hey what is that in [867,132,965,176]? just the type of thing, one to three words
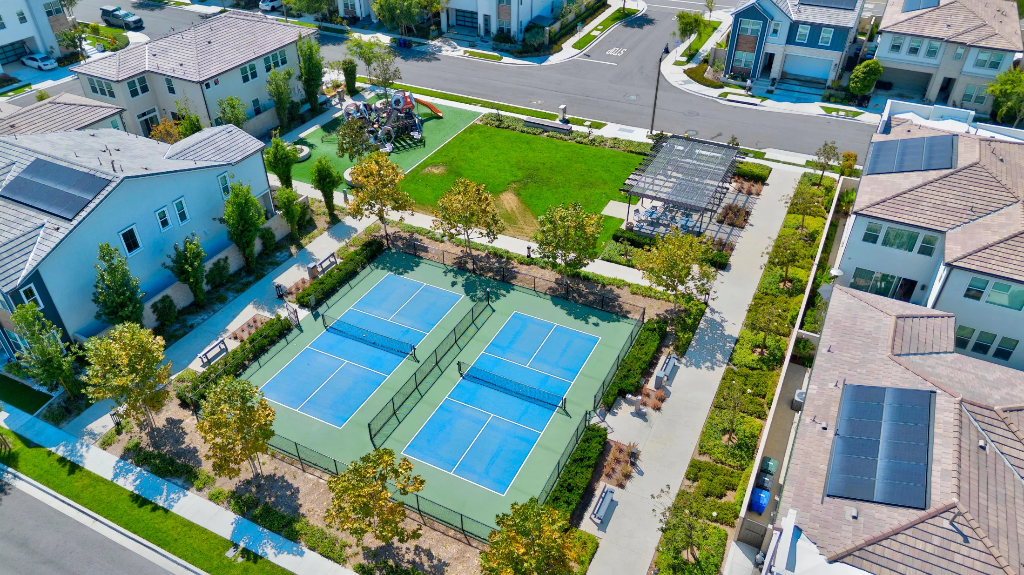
solar array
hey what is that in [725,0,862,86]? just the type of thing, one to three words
house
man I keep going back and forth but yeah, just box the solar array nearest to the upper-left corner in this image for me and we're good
[0,150,108,216]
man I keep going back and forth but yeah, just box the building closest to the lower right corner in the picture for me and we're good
[754,285,1024,575]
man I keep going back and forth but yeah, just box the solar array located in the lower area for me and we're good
[825,381,939,512]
